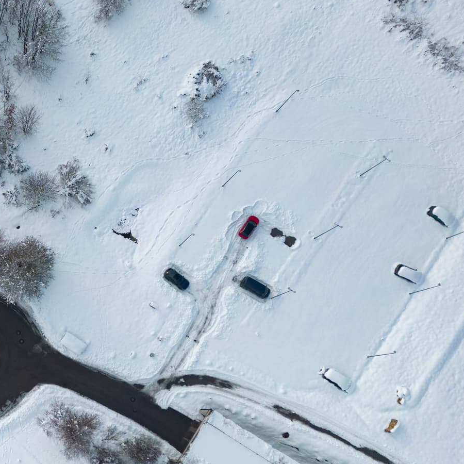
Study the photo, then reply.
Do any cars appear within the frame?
Yes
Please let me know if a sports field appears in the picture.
No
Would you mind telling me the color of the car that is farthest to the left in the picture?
black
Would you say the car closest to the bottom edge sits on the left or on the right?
right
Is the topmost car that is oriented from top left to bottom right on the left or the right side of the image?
right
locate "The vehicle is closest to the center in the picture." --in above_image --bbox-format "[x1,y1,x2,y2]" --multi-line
[239,214,259,240]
